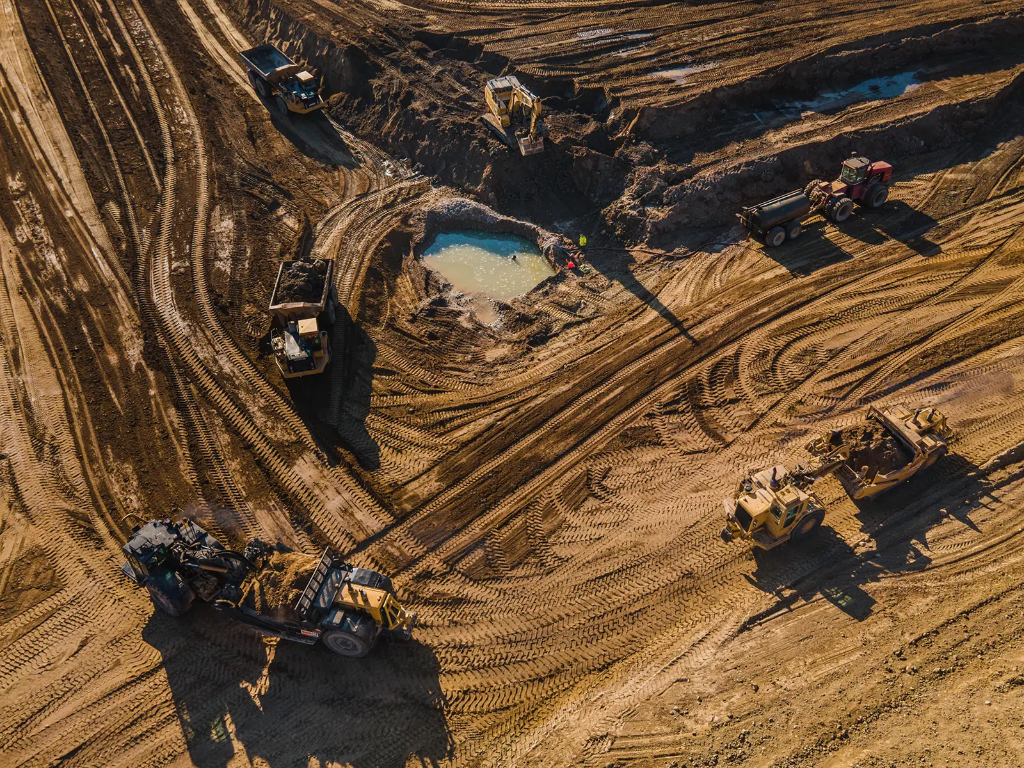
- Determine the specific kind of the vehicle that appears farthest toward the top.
truck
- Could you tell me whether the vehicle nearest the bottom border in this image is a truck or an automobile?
truck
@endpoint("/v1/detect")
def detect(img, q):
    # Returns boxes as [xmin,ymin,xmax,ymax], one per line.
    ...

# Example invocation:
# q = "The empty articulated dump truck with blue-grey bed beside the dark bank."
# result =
[240,47,326,123]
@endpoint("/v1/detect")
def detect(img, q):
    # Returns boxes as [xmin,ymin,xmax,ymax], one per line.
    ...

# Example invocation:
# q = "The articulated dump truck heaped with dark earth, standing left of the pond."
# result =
[268,244,335,378]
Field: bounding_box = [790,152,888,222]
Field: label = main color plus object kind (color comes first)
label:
black work vehicle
